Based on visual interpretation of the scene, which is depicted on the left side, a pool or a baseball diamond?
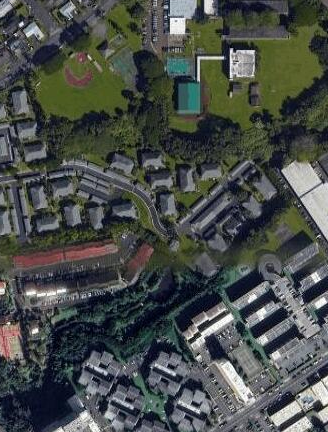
baseball diamond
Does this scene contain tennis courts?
Yes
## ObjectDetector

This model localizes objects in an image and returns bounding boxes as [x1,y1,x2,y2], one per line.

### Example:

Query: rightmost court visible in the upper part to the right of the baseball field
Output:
[165,58,193,76]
